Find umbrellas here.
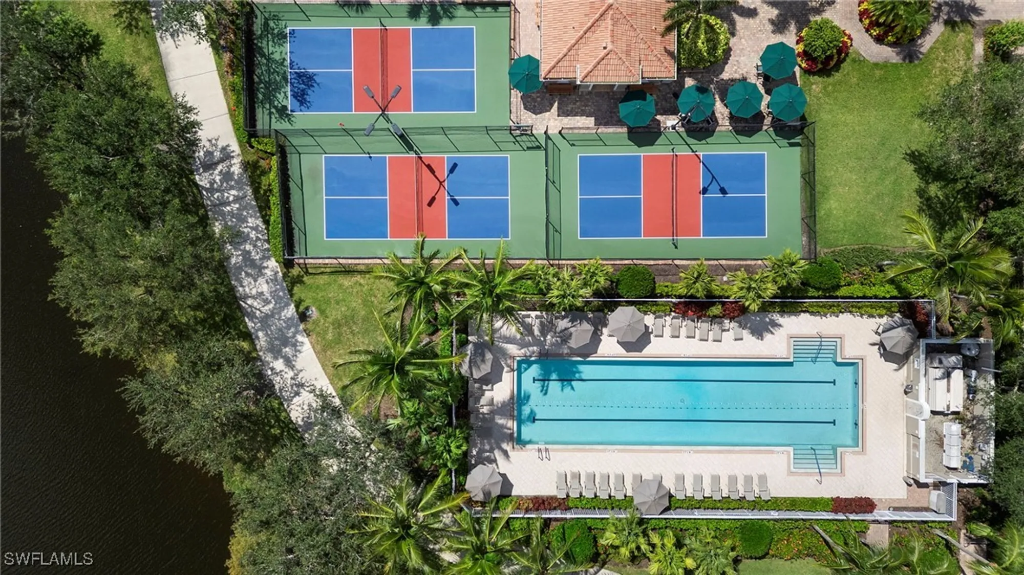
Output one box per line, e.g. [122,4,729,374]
[458,340,495,377]
[559,311,597,349]
[759,41,797,79]
[878,315,915,352]
[466,464,502,500]
[768,83,806,121]
[725,82,763,119]
[609,305,645,341]
[676,85,714,123]
[507,56,542,94]
[632,477,668,513]
[619,91,654,127]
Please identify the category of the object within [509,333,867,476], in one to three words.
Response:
swimming pool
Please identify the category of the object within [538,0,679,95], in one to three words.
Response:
building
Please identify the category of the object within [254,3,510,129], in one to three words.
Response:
sports court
